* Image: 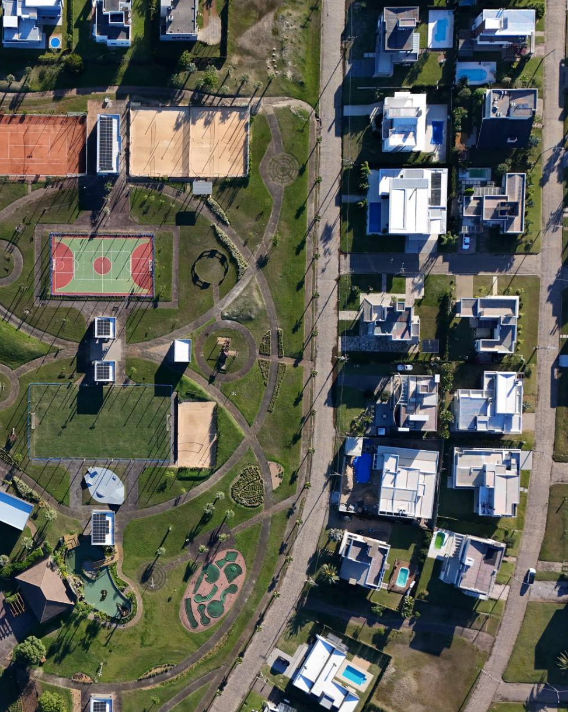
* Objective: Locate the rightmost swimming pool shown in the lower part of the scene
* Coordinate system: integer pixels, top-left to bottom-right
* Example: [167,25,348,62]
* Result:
[433,532,445,549]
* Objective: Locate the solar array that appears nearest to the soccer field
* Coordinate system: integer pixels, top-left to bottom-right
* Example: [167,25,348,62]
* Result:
[96,363,109,380]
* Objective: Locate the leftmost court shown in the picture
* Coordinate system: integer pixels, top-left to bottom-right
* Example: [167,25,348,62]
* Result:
[0,108,88,177]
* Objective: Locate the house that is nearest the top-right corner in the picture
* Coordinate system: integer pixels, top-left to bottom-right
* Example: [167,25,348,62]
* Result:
[467,9,535,61]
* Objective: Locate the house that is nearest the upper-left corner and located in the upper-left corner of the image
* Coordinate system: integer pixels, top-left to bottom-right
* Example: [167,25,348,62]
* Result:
[2,0,62,51]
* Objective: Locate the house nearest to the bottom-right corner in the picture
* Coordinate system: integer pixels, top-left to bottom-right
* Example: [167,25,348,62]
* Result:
[437,532,506,596]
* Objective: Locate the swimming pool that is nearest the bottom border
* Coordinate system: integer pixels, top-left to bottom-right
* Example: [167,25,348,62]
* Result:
[340,664,369,687]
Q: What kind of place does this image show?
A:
residential area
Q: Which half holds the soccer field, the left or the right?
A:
left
